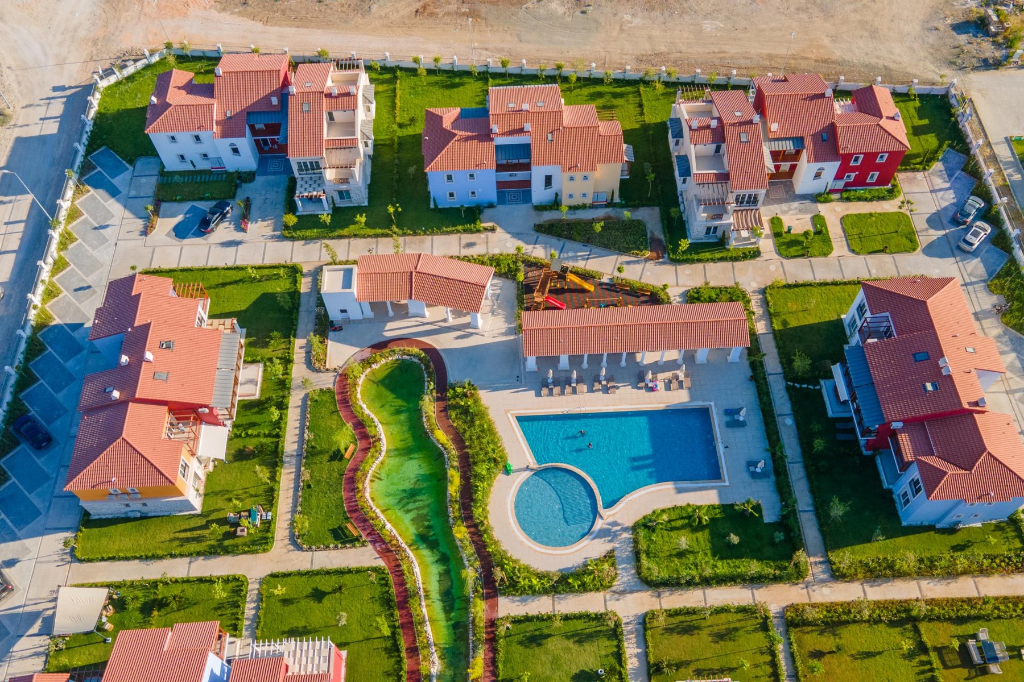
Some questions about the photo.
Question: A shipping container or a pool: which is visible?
pool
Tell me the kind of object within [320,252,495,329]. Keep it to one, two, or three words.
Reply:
building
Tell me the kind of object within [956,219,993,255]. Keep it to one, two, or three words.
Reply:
car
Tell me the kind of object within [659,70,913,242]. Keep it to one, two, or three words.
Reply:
house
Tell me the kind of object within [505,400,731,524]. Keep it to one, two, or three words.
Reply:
swimming pool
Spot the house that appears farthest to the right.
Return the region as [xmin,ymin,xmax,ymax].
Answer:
[817,276,1024,529]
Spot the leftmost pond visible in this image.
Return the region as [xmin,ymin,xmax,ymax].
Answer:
[360,360,471,682]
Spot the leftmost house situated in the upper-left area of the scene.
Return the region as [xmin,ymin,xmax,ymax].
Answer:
[144,54,385,215]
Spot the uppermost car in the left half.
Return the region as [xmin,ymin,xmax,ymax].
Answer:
[194,198,236,234]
